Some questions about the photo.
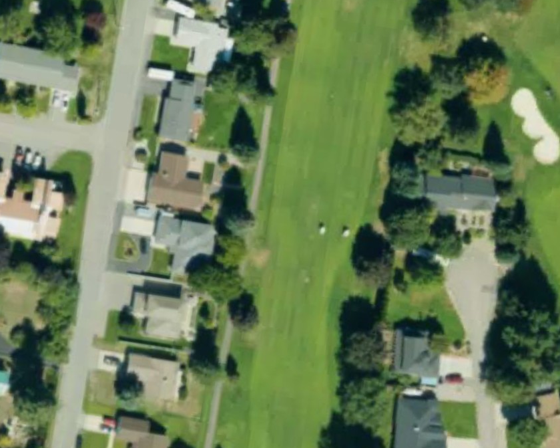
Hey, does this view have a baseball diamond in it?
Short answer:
No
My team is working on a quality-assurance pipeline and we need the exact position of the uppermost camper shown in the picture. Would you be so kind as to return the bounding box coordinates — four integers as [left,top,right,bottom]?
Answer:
[165,0,195,17]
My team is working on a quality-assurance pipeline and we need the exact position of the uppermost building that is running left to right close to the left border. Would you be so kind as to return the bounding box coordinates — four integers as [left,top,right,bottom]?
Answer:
[0,44,79,88]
